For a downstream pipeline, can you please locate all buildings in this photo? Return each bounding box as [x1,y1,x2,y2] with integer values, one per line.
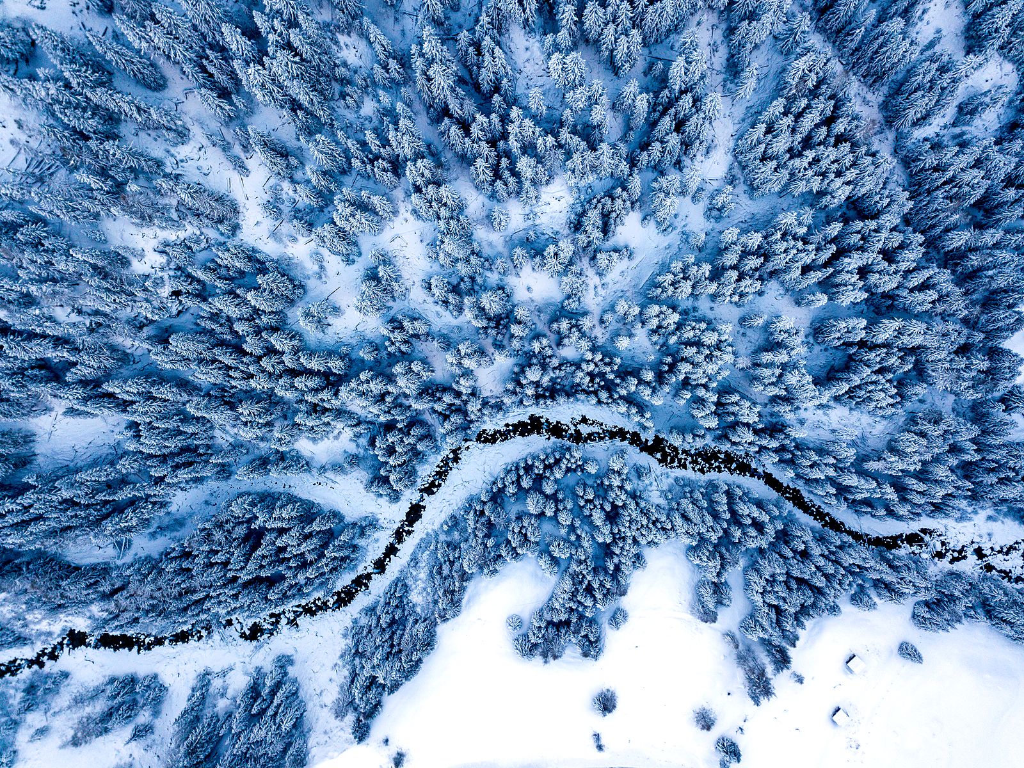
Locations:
[844,652,867,675]
[829,705,851,727]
